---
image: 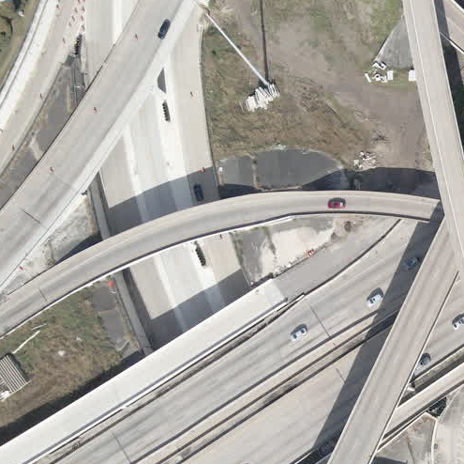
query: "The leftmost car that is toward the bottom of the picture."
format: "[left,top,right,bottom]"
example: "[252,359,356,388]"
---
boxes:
[289,326,308,340]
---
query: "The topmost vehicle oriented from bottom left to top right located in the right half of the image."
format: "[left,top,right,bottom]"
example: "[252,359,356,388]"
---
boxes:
[404,255,421,271]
